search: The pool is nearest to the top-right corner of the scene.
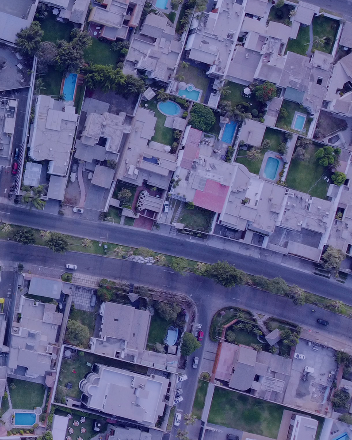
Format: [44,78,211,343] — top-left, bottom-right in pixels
[293,112,308,132]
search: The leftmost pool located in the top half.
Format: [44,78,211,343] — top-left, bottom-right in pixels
[64,71,79,102]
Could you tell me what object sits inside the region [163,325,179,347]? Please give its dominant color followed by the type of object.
blue swimming pool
